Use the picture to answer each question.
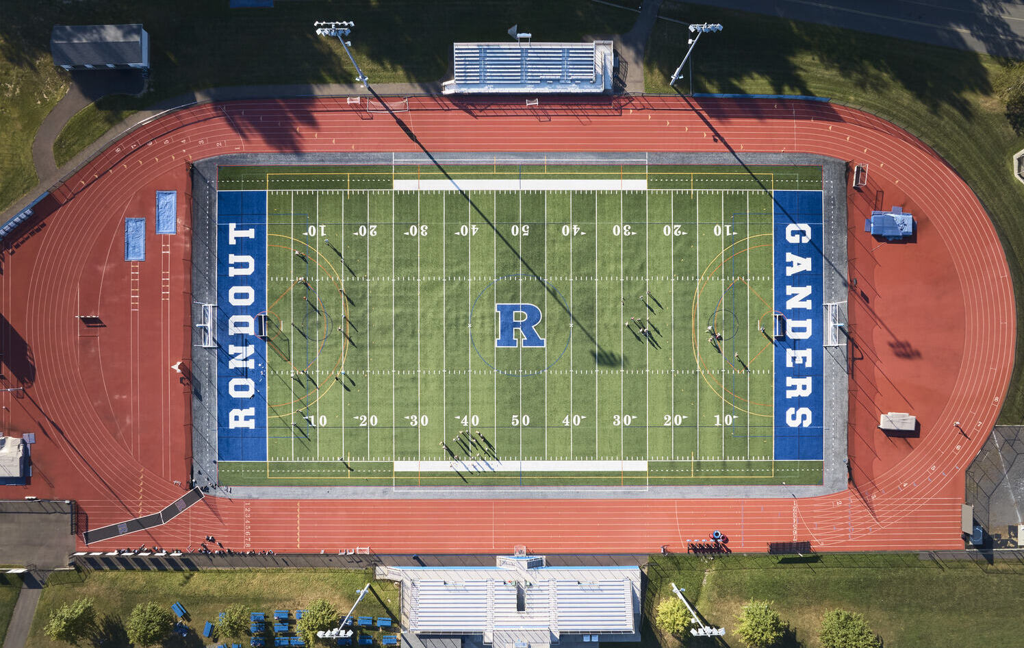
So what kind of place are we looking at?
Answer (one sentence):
The picture captures a sports ground.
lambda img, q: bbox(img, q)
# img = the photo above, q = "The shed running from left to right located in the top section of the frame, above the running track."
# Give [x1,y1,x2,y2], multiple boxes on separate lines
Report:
[48,26,155,75]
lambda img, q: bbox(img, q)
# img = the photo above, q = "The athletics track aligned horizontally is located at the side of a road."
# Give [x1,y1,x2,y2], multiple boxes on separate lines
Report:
[0,97,1017,553]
